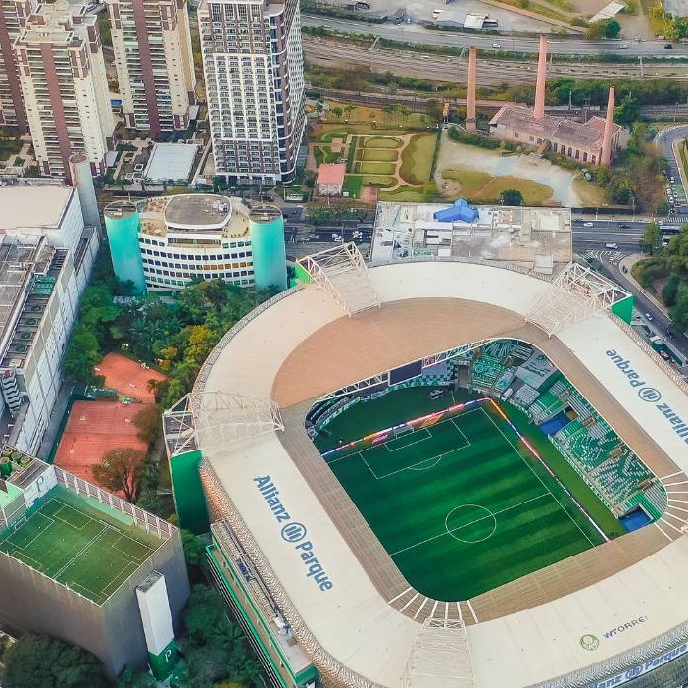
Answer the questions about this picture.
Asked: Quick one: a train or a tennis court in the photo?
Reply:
tennis court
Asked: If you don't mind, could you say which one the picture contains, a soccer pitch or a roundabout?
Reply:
soccer pitch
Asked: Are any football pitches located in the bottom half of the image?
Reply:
Yes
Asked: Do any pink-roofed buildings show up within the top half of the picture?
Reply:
Yes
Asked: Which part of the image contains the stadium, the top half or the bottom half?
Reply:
bottom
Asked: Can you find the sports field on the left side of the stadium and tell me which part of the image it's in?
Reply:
bottom left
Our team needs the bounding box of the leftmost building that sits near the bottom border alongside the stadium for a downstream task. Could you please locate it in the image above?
[0,458,188,679]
